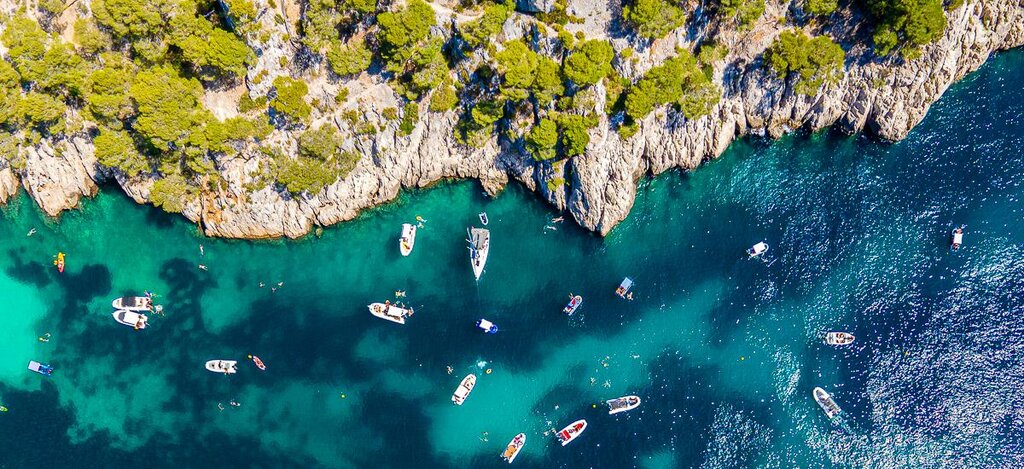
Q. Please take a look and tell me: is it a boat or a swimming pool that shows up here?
boat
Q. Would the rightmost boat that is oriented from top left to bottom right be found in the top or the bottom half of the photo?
bottom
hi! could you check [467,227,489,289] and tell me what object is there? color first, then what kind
white boat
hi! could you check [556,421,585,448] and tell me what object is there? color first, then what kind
white boat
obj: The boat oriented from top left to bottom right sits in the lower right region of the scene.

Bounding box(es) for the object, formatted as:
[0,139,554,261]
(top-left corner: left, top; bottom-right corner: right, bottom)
[815,388,841,418]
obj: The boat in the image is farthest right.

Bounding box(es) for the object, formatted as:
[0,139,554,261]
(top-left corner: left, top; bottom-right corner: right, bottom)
[950,229,964,252]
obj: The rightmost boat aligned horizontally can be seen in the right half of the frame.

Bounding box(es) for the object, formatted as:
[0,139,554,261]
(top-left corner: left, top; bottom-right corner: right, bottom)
[823,331,855,345]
